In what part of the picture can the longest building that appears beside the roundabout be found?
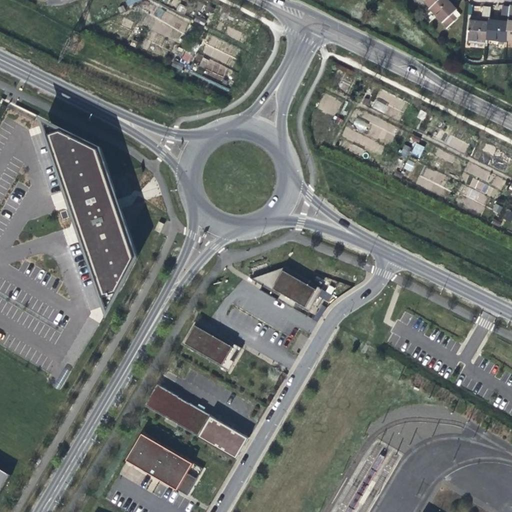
left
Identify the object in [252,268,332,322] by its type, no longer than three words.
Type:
building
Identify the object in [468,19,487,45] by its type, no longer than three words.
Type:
house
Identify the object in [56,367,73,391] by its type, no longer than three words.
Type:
vehicle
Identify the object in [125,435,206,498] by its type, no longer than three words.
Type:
building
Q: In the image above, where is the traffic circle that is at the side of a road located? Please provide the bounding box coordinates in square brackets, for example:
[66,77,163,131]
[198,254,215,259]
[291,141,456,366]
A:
[125,78,349,288]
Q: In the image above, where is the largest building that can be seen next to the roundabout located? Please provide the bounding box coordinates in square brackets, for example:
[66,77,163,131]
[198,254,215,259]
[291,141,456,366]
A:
[36,115,134,322]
